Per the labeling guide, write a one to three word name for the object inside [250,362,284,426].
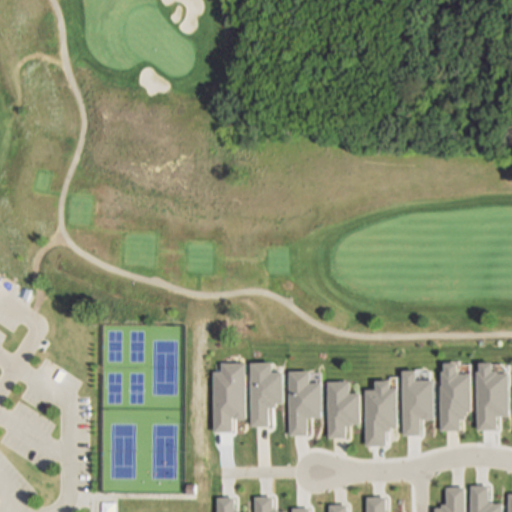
house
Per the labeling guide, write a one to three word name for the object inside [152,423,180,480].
tennis court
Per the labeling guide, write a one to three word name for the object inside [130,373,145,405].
sports court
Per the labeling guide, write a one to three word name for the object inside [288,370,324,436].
house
